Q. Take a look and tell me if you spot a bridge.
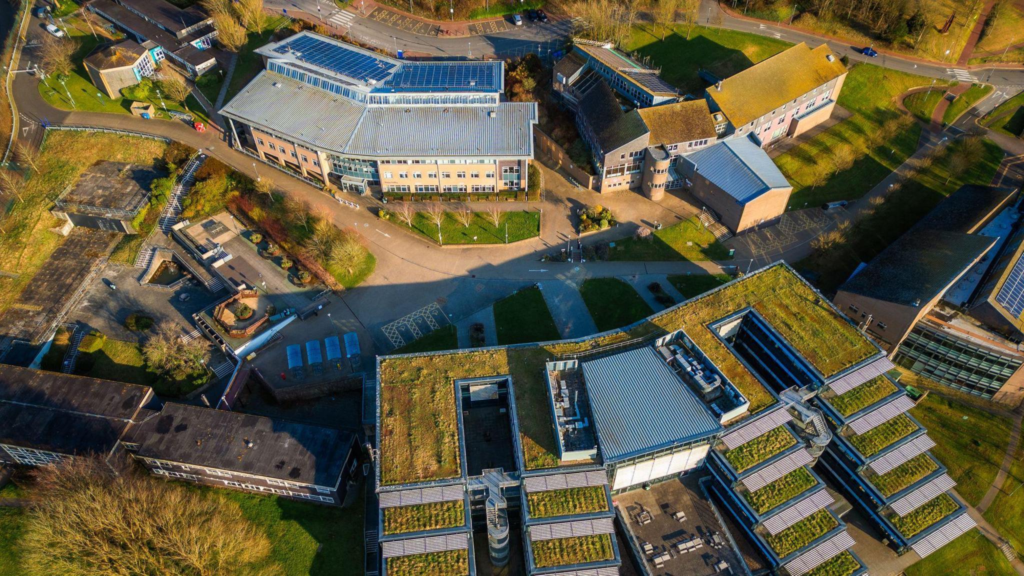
Yes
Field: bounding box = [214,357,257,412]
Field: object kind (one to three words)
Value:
bridge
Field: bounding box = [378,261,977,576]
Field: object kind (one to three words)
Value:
building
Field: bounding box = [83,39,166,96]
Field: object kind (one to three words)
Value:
building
